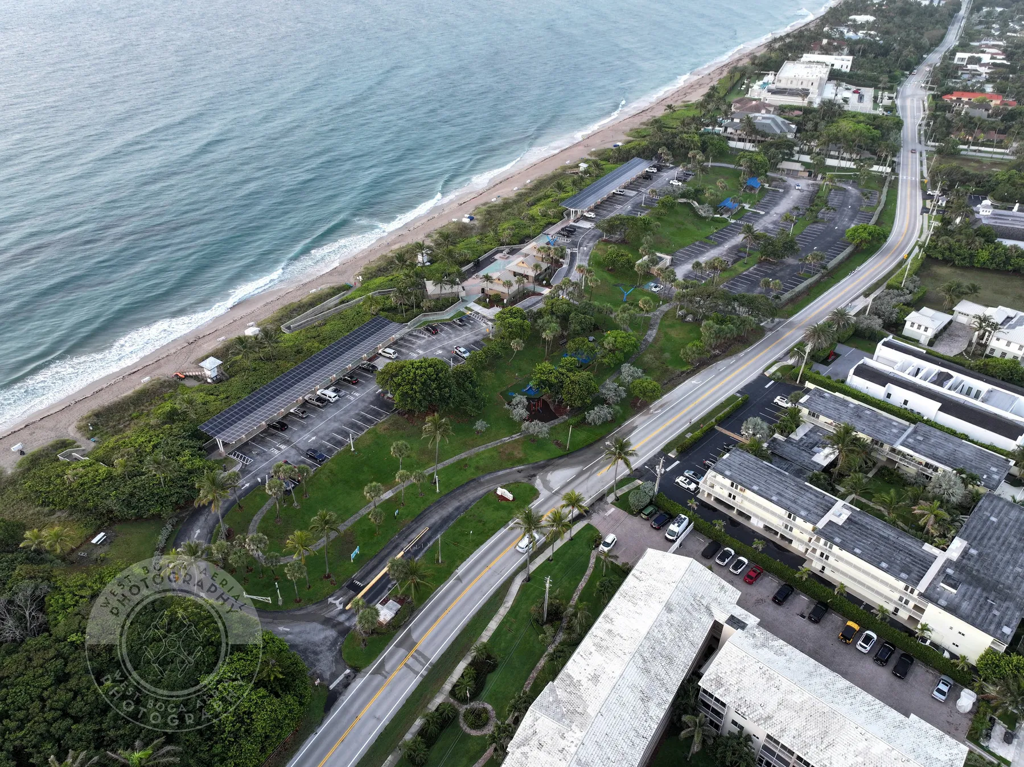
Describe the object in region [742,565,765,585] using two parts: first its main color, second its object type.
red car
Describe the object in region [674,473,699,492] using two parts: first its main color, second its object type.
white car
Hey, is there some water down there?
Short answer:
Yes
